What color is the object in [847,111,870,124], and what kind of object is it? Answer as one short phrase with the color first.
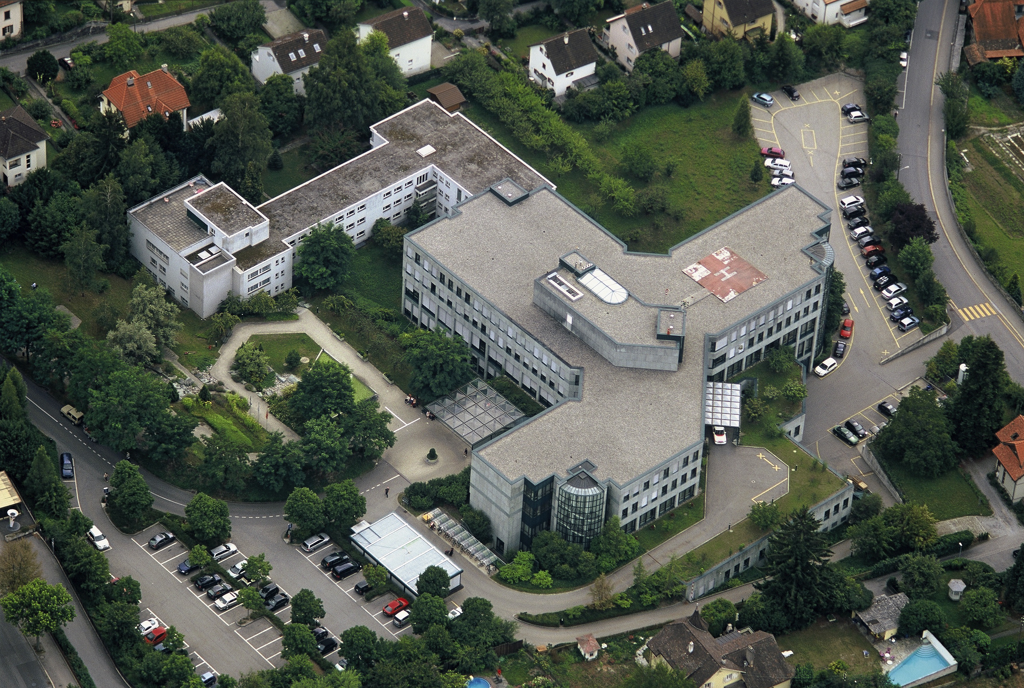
gray vehicle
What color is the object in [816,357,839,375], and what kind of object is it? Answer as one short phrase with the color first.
white car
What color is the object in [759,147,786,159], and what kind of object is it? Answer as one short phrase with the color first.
red vehicle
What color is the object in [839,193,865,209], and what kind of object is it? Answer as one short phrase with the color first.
white car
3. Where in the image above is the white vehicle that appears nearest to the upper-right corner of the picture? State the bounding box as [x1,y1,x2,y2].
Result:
[898,50,910,68]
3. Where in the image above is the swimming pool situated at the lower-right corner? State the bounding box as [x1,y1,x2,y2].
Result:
[886,628,959,688]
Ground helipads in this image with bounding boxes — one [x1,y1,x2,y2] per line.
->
[682,255,769,304]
